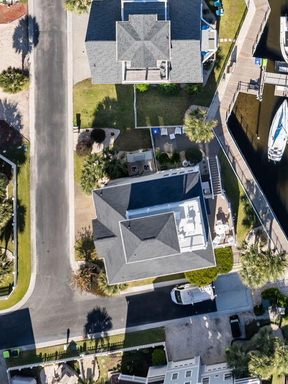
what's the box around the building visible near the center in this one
[91,157,237,286]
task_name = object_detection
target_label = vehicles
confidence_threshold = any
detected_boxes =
[170,285,216,310]
[229,313,242,340]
